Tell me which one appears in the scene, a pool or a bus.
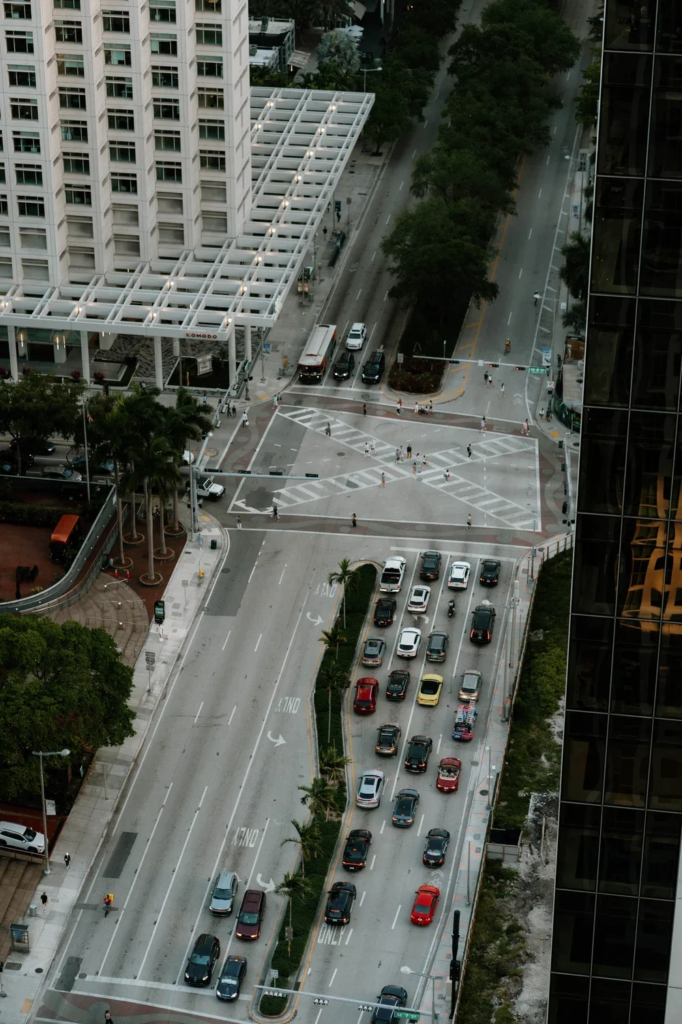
bus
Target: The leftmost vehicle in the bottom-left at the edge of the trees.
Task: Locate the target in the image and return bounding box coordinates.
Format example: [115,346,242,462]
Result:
[0,819,47,852]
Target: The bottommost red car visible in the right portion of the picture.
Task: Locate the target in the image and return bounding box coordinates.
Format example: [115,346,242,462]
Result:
[410,879,441,922]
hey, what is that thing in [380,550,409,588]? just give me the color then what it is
white truck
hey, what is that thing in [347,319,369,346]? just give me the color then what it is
white car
